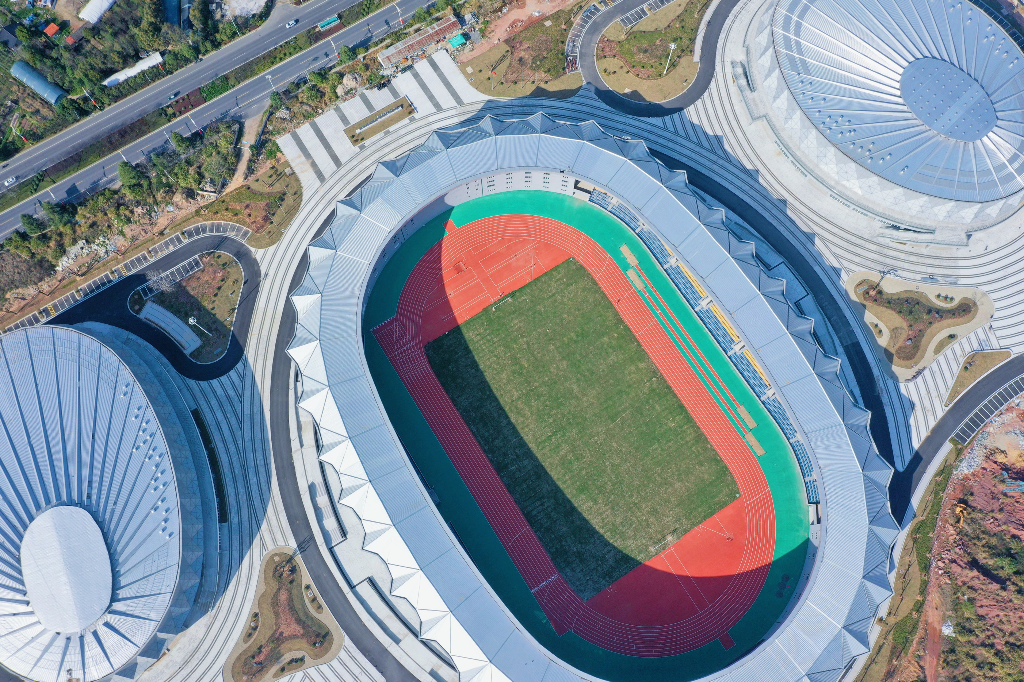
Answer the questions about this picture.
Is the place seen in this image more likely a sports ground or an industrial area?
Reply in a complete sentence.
This image shows a sports ground.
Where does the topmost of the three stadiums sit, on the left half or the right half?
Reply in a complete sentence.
The topmost of the three stadiums is on the right side of the image.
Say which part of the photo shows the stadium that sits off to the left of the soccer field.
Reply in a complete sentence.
You can find the stadium that sits off to the left of the soccer field in the bottom left area of the picture.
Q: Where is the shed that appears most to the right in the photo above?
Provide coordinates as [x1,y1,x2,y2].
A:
[378,15,461,69]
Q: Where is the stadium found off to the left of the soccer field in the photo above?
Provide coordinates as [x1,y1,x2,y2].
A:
[0,321,223,682]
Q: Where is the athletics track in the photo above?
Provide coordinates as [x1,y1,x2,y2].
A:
[362,188,811,682]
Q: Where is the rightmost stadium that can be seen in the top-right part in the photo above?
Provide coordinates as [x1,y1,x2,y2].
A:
[729,0,1024,250]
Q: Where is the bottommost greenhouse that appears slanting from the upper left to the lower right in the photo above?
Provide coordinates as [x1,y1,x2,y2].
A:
[11,61,68,107]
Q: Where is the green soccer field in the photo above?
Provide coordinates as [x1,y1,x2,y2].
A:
[424,257,741,602]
